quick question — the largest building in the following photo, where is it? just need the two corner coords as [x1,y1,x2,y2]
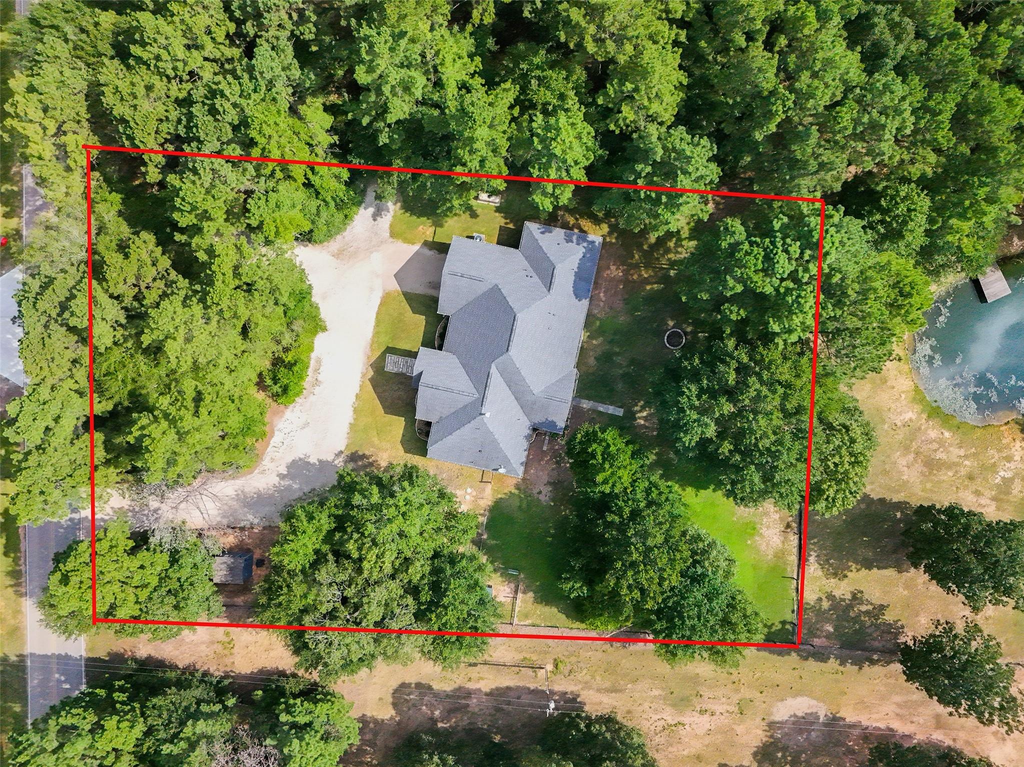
[411,221,602,478]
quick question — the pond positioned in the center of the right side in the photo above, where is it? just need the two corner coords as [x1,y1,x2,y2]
[913,261,1024,424]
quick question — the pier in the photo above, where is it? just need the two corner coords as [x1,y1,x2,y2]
[971,261,1012,303]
